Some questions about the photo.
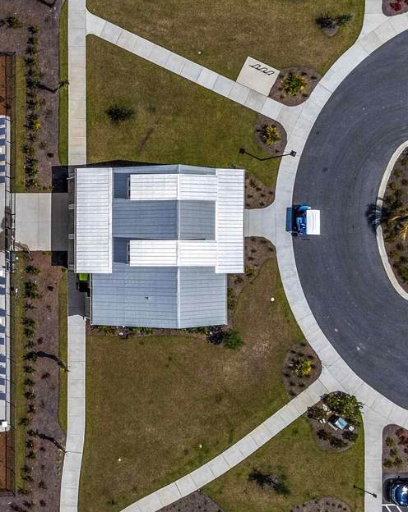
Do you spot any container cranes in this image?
No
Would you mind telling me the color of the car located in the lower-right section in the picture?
black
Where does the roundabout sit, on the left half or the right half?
right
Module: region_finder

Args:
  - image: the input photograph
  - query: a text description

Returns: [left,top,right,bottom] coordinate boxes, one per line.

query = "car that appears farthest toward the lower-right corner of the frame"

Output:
[384,481,408,507]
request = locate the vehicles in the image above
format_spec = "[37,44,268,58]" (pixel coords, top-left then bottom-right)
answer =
[384,481,408,507]
[292,207,321,237]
